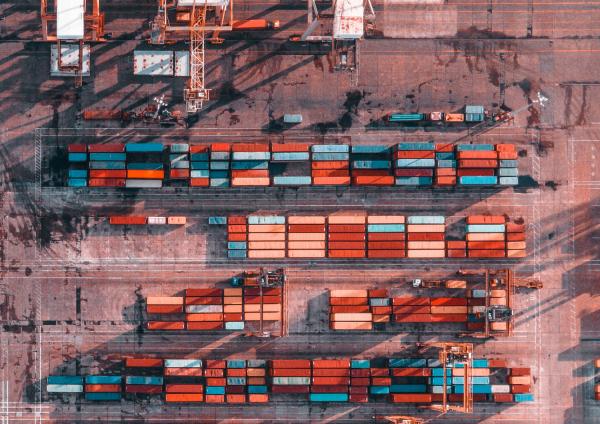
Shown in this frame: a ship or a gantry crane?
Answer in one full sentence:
This aerial view contains a gantry crane.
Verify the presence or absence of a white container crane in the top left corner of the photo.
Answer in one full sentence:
Yes, the scene does show a white container crane in the top left corner of the photo.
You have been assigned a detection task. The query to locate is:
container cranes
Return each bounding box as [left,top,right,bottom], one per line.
[30,0,112,90]
[422,341,474,415]
[274,0,379,92]
[462,266,516,338]
[247,266,291,338]
[144,0,243,110]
